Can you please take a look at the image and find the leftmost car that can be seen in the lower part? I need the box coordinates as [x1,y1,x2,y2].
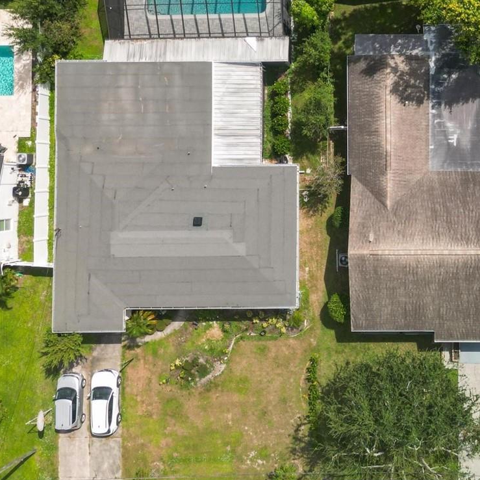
[49,372,83,433]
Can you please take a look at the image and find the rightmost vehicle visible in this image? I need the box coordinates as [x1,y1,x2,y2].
[86,368,120,434]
